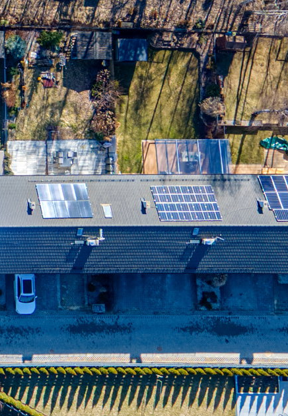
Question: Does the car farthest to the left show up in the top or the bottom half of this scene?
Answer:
bottom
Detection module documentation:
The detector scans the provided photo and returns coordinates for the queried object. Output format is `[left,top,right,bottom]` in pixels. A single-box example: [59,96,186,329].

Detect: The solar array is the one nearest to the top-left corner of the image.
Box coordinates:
[33,183,98,217]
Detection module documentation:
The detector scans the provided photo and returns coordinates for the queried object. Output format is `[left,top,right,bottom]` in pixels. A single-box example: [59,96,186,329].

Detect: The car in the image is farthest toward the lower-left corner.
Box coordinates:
[14,274,36,314]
